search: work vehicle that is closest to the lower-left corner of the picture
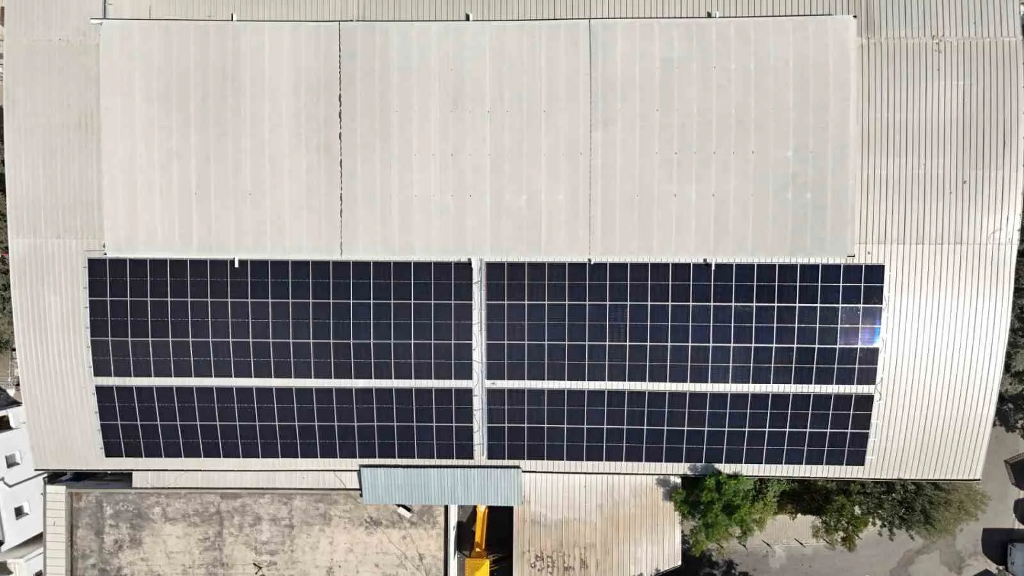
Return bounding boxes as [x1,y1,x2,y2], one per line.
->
[461,506,499,576]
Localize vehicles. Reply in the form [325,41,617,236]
[990,536,1024,576]
[461,506,499,576]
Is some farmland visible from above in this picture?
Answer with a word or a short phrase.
No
